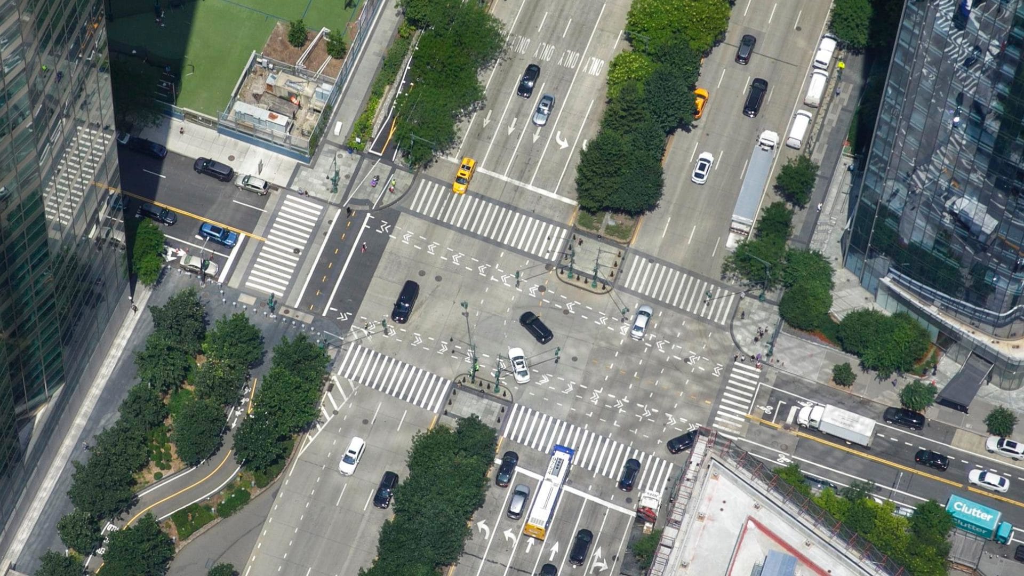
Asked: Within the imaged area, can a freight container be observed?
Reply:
Yes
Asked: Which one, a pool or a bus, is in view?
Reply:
bus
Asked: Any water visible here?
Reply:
No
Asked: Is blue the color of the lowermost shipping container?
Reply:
No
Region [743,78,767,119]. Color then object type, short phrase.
black car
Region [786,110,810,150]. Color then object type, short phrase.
white vehicle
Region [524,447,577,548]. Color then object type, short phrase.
white bus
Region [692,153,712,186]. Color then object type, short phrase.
white car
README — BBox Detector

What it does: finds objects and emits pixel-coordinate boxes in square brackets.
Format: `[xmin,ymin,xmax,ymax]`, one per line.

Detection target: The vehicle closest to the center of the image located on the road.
[520,312,553,345]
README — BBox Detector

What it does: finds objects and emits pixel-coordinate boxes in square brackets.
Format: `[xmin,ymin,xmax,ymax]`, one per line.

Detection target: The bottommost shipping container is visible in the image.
[233,101,289,135]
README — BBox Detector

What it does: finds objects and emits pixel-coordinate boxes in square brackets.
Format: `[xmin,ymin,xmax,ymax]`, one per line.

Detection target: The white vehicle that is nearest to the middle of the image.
[508,349,529,385]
